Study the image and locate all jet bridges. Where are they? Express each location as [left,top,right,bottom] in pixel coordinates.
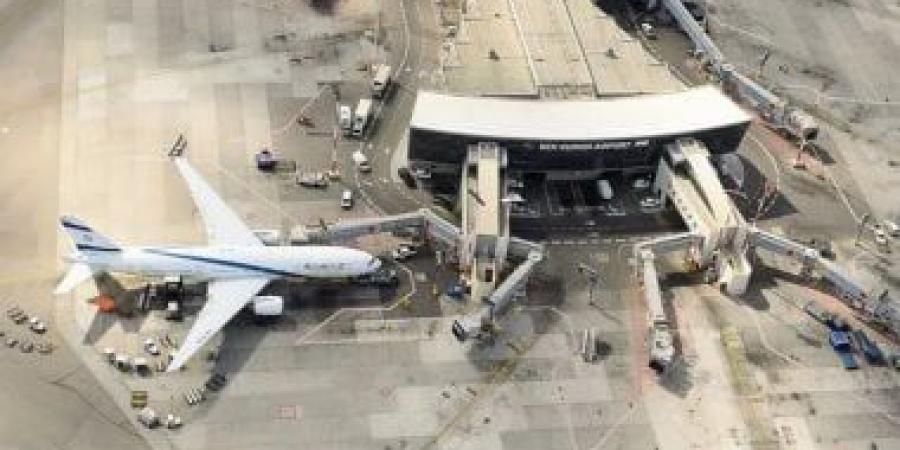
[287,212,471,256]
[655,0,819,143]
[636,234,694,372]
[750,230,900,335]
[451,237,550,350]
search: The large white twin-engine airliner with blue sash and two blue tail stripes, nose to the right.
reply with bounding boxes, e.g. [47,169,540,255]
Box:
[51,156,384,370]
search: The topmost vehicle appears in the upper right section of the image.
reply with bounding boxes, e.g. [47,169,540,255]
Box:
[685,0,709,22]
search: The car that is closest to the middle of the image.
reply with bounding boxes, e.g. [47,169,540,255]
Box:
[427,196,450,212]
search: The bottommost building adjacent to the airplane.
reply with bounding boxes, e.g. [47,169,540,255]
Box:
[398,85,750,194]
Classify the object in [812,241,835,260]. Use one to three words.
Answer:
car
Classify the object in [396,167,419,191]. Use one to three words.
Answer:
work vehicle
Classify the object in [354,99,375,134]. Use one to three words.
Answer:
truck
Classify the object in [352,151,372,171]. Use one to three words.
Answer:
vehicle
